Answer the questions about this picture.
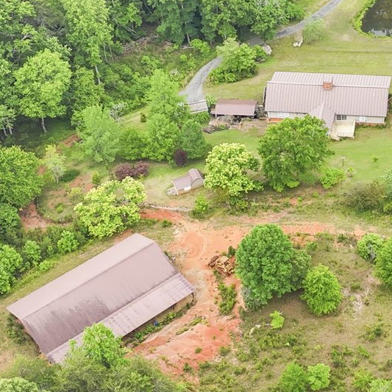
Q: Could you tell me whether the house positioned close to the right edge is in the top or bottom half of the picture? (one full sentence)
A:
Seen from above, the house positioned close to the right edge lies in the top half of the view.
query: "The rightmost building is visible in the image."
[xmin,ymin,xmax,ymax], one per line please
[264,71,390,144]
